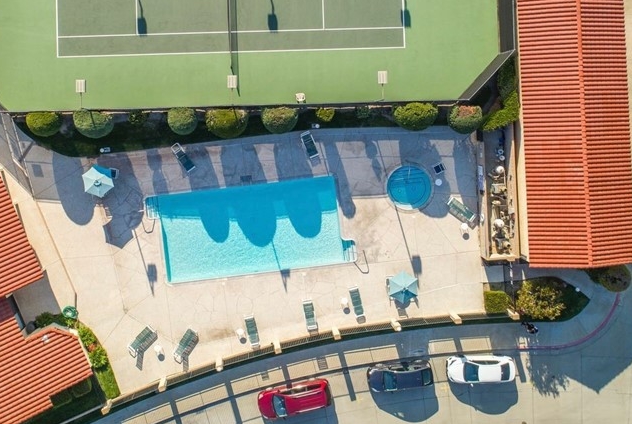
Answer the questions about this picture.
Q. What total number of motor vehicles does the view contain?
3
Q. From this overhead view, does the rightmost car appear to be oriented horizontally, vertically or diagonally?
horizontally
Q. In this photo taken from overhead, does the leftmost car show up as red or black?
red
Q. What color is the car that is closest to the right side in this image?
white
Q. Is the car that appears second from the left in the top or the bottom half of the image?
bottom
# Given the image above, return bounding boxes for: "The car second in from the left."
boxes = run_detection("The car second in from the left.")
[366,358,434,393]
